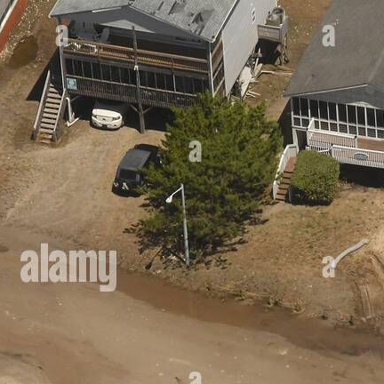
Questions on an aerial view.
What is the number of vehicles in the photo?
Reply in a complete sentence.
I count 2 vehicles.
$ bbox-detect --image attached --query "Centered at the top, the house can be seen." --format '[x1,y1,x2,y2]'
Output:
[30,0,296,139]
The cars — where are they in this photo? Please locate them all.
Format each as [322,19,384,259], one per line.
[88,101,131,126]
[115,139,163,187]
